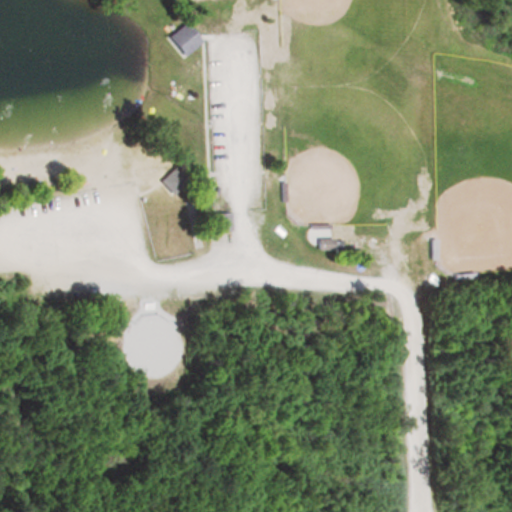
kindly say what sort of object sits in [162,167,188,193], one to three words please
building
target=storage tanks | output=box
[124,317,184,377]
